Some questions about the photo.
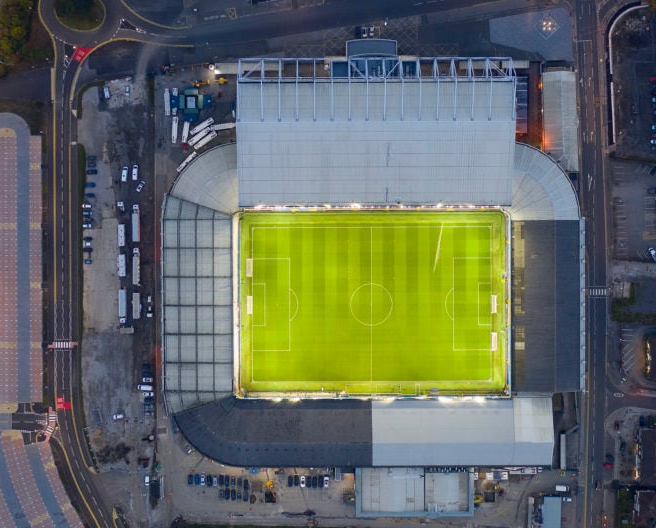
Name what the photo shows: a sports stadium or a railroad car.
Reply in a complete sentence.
Visible in the photo is a sports stadium.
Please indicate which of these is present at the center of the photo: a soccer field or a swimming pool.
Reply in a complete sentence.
Visible at the center of the photo is a soccer field.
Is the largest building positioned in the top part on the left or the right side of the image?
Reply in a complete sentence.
You can find the largest building positioned in the top part on the right side of the picture.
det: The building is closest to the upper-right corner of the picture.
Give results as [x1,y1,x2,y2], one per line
[539,71,579,172]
